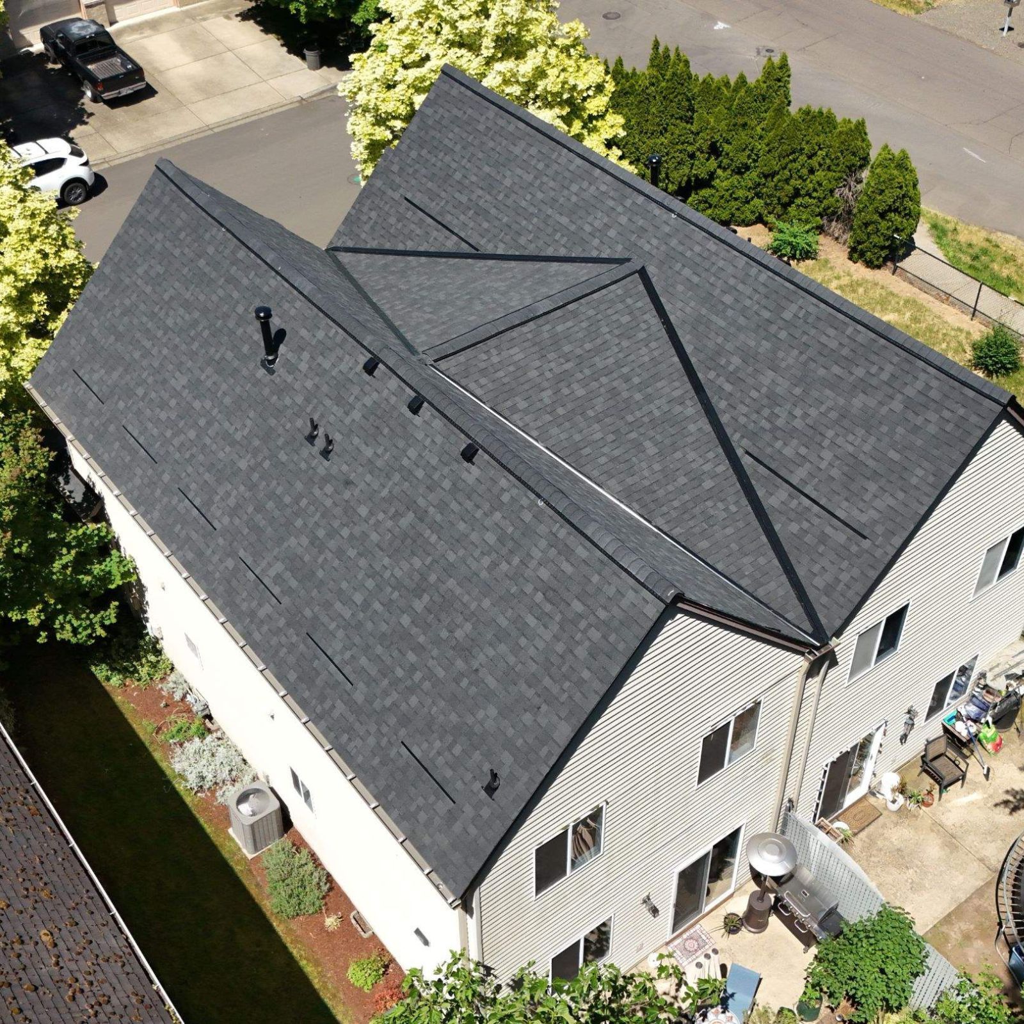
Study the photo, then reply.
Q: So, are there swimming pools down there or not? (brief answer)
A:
No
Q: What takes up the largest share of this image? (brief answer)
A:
buildings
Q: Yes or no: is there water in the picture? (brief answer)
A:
No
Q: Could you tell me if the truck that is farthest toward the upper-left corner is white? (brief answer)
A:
No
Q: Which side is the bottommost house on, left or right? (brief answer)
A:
left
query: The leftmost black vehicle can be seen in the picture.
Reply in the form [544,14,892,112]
[40,21,149,100]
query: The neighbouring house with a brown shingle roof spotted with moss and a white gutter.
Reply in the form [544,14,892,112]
[0,723,185,1024]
